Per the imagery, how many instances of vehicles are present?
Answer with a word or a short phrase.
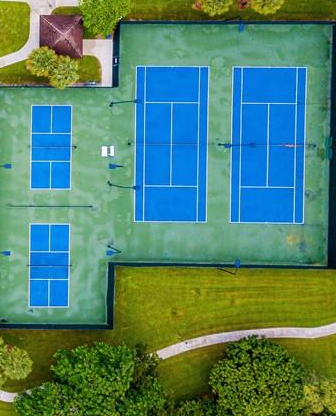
0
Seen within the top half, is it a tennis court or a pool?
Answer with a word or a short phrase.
tennis court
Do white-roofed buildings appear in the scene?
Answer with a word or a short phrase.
No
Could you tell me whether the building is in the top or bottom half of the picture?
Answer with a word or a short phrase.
top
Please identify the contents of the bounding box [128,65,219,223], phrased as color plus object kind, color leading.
blue tennis court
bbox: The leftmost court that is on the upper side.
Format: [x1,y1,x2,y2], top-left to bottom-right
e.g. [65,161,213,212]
[28,106,77,190]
